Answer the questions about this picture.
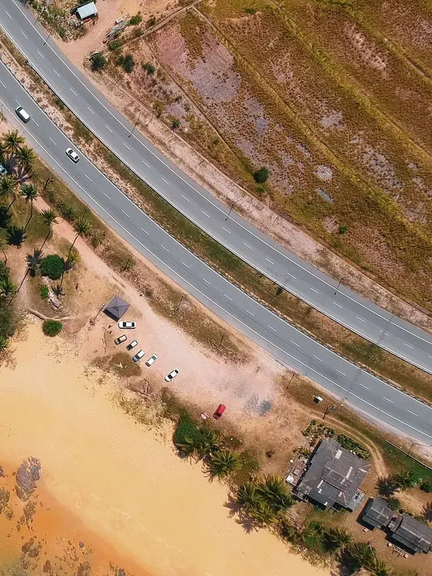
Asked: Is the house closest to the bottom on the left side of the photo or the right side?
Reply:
right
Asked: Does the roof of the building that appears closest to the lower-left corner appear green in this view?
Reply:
No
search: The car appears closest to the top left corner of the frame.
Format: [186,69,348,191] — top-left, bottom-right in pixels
[15,104,30,123]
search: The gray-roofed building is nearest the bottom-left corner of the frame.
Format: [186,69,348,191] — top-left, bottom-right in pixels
[105,295,130,319]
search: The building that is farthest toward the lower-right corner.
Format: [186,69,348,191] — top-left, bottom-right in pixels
[362,496,432,552]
